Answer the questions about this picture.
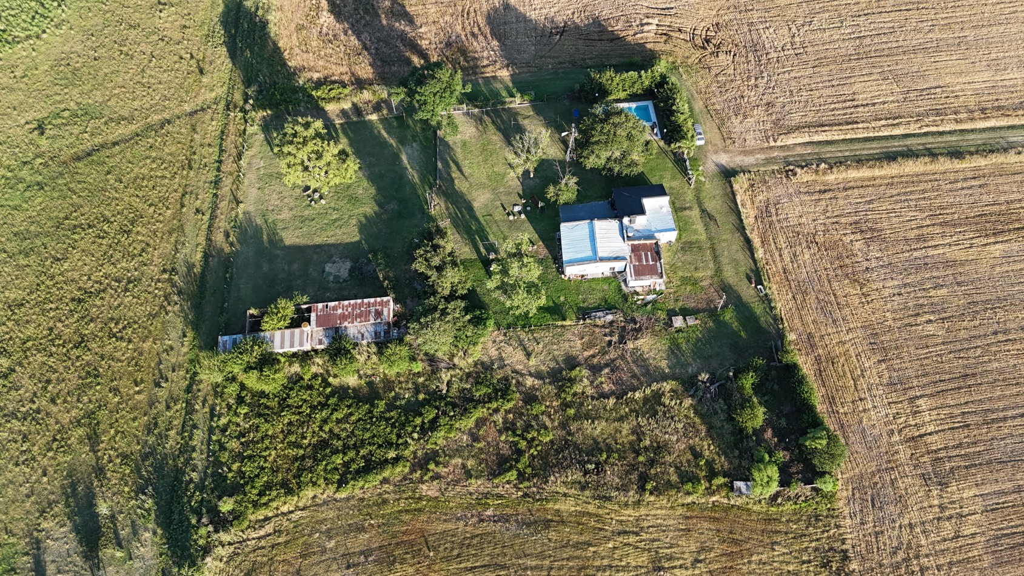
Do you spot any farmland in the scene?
Yes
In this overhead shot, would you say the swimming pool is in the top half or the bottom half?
top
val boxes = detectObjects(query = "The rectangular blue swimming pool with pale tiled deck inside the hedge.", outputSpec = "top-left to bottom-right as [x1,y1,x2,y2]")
[593,100,662,139]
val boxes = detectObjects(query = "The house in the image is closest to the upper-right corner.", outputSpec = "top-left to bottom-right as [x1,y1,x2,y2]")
[558,184,677,290]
